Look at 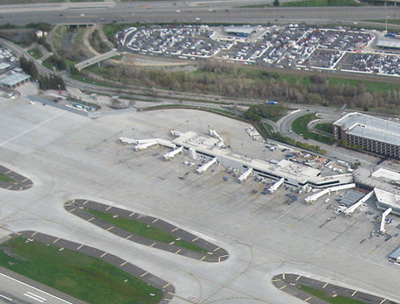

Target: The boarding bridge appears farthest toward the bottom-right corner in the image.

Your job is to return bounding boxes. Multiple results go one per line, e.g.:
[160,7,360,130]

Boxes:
[379,208,393,232]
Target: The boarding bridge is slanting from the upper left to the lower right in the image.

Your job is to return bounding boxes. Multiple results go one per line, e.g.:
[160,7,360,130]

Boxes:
[208,128,225,143]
